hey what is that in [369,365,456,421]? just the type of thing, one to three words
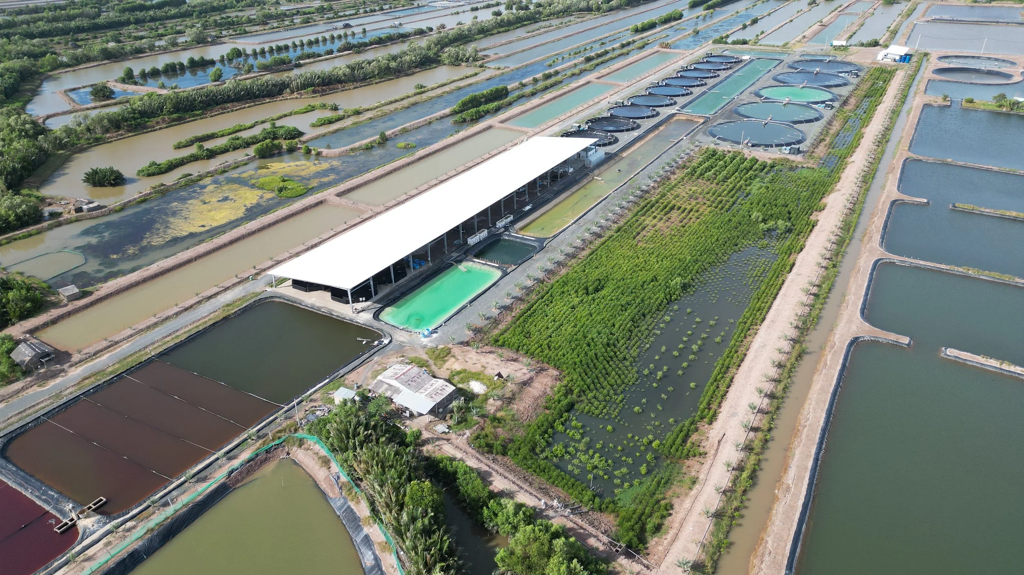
house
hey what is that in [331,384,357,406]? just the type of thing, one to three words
shed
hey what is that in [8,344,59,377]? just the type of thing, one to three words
shed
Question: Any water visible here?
Yes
